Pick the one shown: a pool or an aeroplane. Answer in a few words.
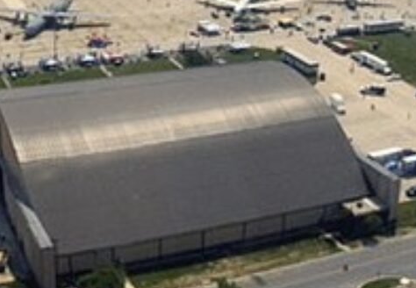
aeroplane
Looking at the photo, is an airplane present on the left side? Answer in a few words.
Yes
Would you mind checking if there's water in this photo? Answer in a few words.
No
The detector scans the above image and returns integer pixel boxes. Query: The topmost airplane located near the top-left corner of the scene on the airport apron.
[0,0,104,36]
